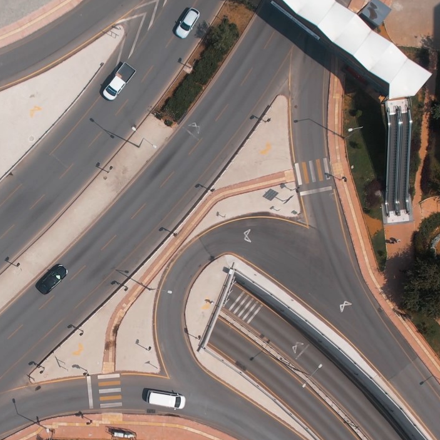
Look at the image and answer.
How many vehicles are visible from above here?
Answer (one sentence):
Looking from above, you can make out 4 vehicles.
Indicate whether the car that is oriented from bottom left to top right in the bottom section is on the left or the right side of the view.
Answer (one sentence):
It is on the left.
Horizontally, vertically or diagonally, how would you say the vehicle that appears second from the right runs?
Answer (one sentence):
Seen from above, the vehicle that appears second from the right lies horizontally.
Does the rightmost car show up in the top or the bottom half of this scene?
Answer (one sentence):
The top half of the photo is where the rightmost car is.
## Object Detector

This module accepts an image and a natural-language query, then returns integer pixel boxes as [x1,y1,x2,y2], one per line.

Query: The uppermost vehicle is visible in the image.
[175,4,202,40]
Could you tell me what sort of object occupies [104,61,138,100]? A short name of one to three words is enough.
truck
